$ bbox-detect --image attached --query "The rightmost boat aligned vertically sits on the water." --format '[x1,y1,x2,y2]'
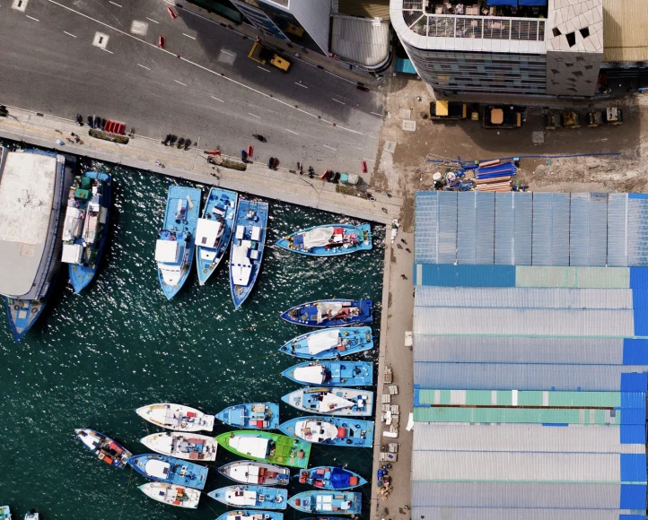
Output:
[227,199,269,309]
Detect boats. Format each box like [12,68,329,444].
[217,509,286,520]
[278,326,376,359]
[134,403,219,435]
[59,169,120,293]
[279,299,374,328]
[215,402,282,431]
[207,485,290,512]
[299,466,367,492]
[280,387,374,418]
[125,456,211,491]
[24,511,41,520]
[74,429,134,469]
[155,185,202,300]
[274,222,374,258]
[217,460,292,487]
[280,360,374,387]
[139,432,220,461]
[227,199,269,309]
[136,482,203,511]
[193,186,240,285]
[287,491,364,516]
[215,431,313,469]
[278,416,376,447]
[0,505,15,520]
